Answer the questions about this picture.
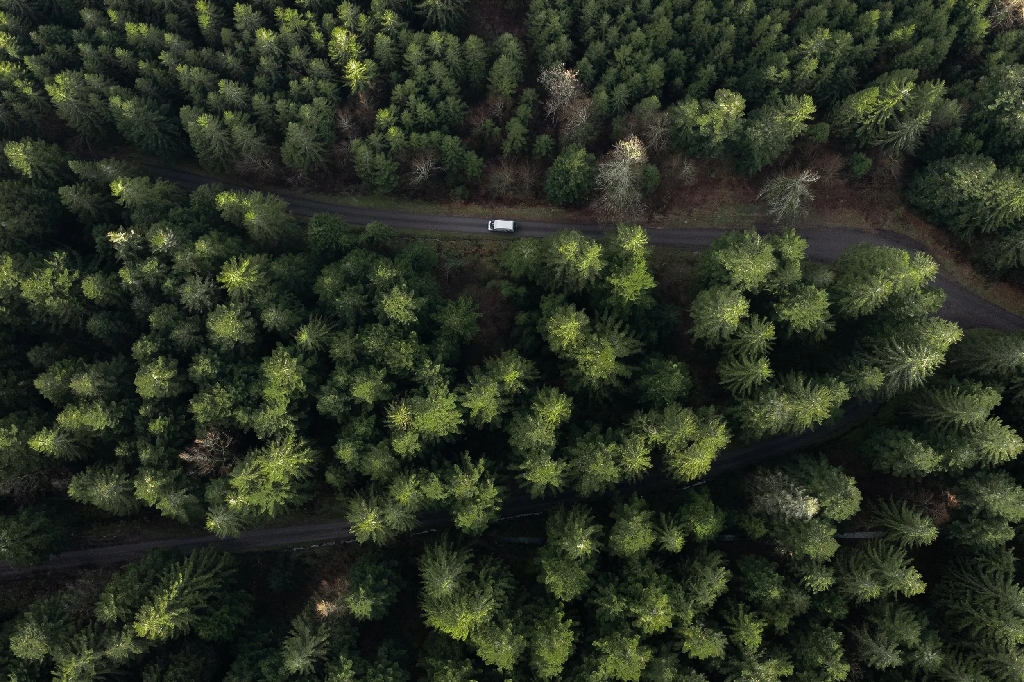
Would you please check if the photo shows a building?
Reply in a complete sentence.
No, there's no building here.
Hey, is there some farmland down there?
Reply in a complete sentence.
No, the scene doesn't show any farmland.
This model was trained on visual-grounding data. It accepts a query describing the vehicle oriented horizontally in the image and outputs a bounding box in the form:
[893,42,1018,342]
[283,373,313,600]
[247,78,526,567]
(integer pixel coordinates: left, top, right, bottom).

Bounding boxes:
[488,221,520,234]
